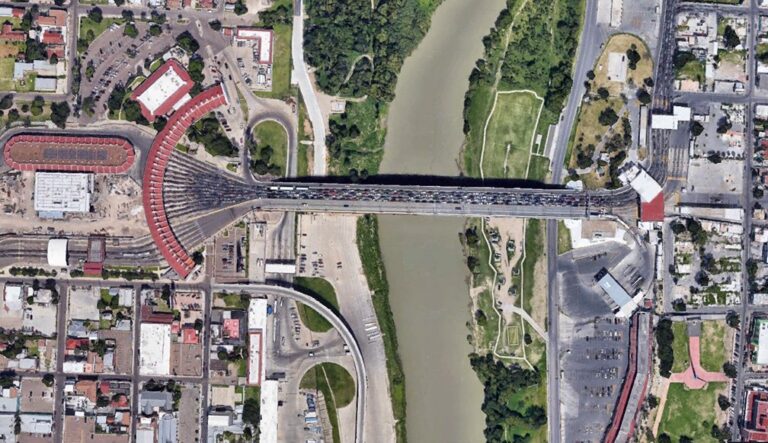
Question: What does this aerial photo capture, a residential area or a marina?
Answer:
residential area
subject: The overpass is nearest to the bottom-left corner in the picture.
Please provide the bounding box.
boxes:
[208,282,368,443]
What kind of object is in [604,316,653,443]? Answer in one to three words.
building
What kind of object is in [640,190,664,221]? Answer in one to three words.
building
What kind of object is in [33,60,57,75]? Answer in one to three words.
house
